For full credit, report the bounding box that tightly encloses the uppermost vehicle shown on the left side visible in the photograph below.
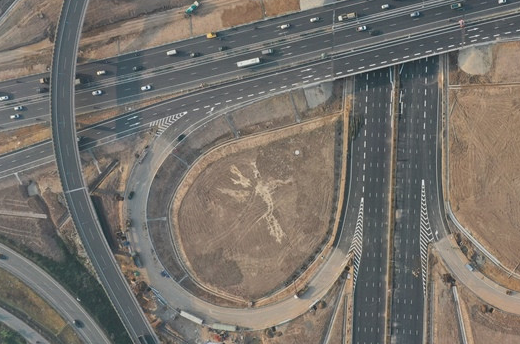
[183,0,201,15]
